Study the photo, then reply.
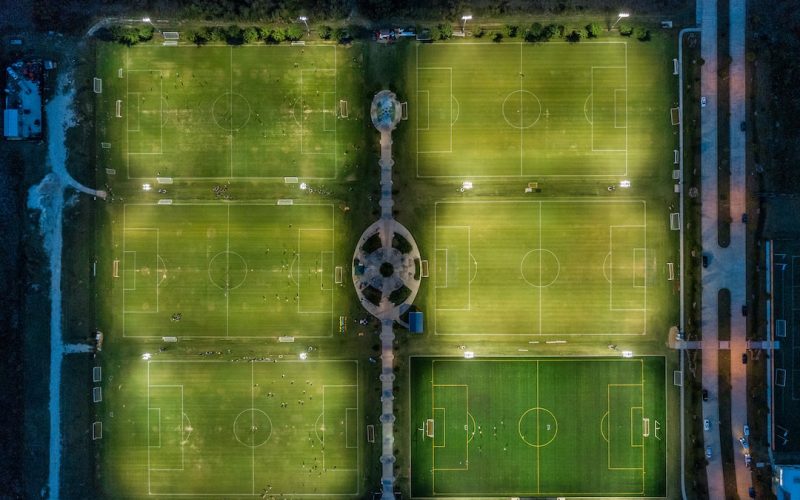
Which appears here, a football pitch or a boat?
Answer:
football pitch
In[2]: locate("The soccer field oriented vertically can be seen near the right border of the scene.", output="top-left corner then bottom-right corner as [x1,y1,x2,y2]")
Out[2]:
[774,238,800,459]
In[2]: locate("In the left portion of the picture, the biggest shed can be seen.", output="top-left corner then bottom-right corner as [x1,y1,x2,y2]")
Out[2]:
[5,109,23,138]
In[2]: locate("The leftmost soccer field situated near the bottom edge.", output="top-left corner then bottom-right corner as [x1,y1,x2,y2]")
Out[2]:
[148,361,358,495]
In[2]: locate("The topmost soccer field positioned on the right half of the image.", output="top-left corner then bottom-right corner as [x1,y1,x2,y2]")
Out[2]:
[416,42,627,180]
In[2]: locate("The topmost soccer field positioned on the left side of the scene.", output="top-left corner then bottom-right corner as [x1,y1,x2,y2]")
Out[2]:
[127,45,336,179]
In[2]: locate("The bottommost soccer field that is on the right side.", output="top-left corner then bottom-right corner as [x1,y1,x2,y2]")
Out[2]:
[410,356,667,498]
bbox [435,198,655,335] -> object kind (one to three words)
soccer field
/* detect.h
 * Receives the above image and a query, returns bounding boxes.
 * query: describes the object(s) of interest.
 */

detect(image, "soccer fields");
[148,361,358,495]
[435,198,655,335]
[774,238,800,459]
[416,42,627,180]
[127,45,336,179]
[410,356,667,498]
[123,204,334,337]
